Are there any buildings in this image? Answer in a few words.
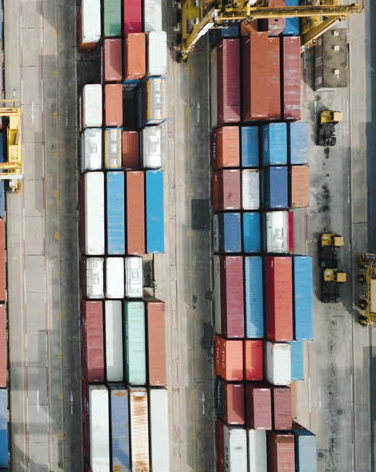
Yes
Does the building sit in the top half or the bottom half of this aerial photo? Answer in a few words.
top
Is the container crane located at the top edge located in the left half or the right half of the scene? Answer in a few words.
right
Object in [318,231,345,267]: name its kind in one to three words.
work vehicle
